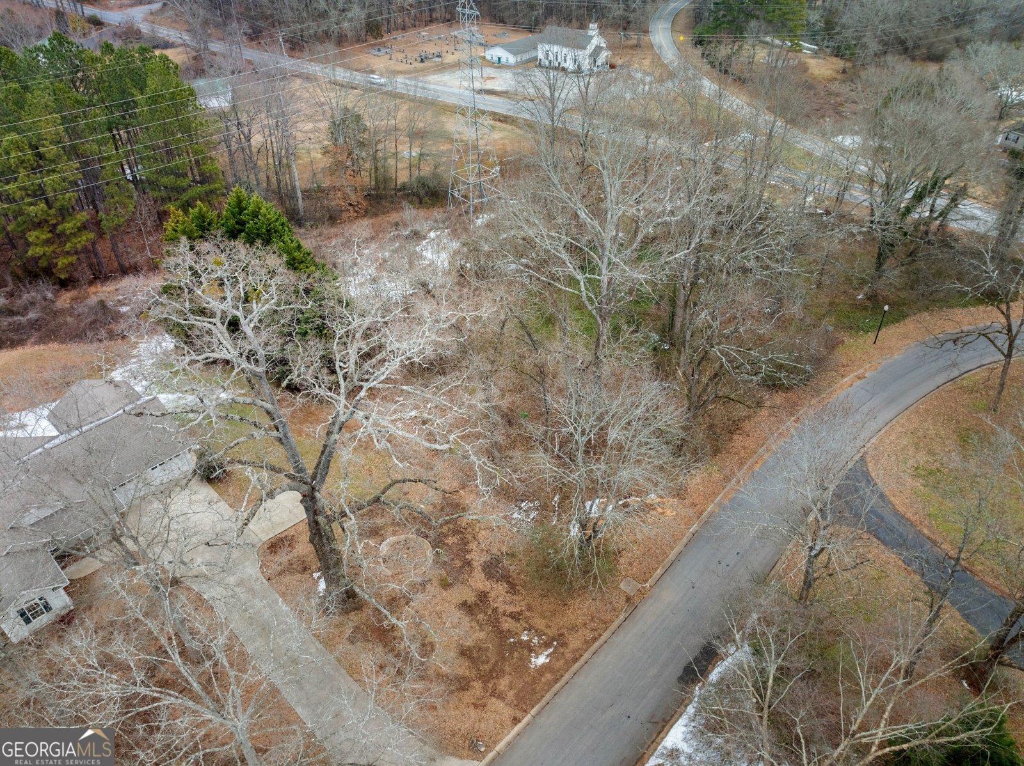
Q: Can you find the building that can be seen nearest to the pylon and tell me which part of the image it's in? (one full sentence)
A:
You can find the building that can be seen nearest to the pylon in the top area of the picture.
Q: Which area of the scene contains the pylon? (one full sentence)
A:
You can find the pylon in the top area of the picture.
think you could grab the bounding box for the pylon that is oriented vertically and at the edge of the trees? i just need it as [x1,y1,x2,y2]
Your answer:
[439,0,502,217]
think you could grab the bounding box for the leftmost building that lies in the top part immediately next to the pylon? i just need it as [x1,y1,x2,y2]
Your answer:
[484,42,539,66]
